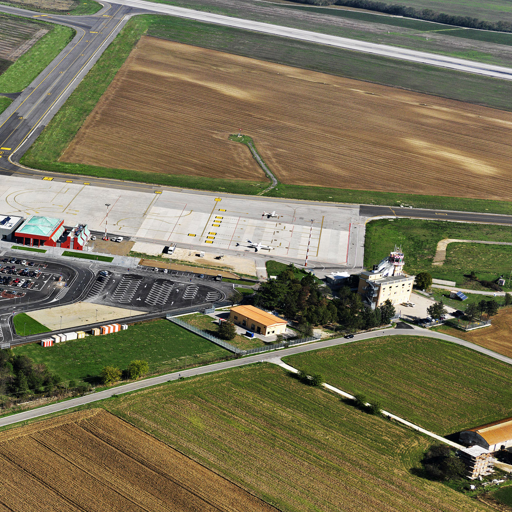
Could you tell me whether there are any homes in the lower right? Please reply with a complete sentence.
Yes, in the lower right there is a home.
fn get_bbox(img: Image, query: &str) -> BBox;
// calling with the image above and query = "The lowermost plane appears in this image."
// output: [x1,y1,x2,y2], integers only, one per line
[248,235,272,251]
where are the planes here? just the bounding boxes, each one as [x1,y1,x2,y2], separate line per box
[262,210,280,217]
[248,235,272,251]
